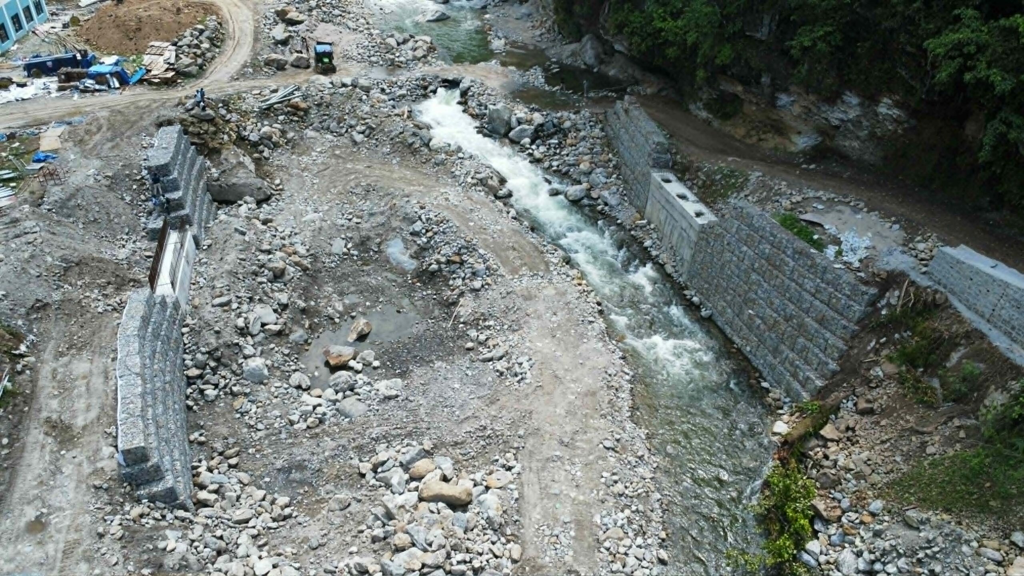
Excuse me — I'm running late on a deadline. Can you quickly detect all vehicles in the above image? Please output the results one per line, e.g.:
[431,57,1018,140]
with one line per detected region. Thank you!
[316,32,343,72]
